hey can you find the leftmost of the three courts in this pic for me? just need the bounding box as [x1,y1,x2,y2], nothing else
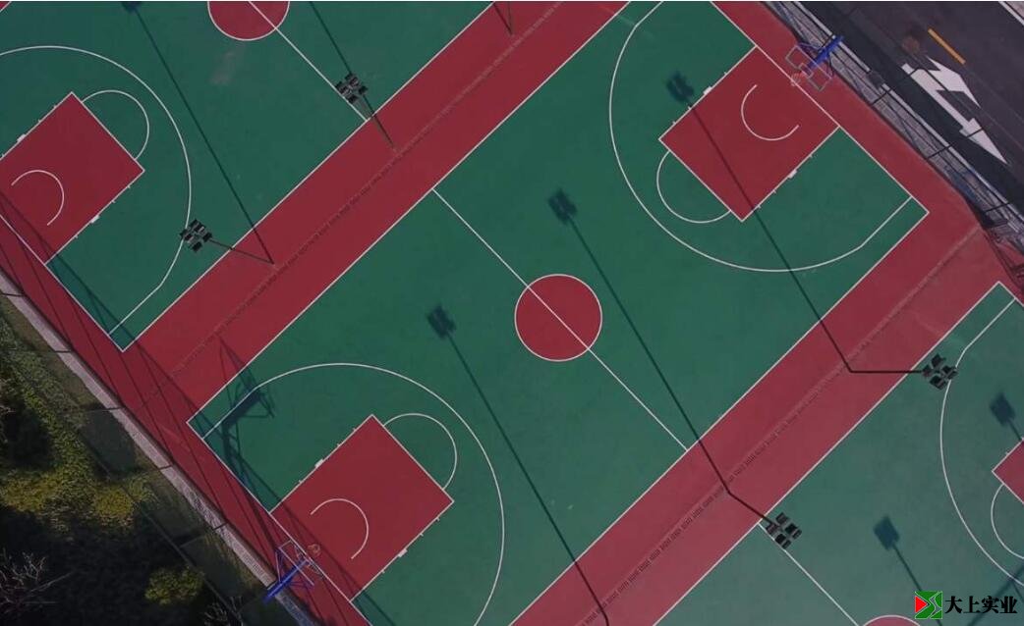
[0,0,495,352]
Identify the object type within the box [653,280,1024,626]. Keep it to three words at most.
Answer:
basketball court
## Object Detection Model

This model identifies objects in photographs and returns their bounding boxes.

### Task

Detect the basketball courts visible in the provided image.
[0,0,495,352]
[187,0,931,626]
[653,280,1024,626]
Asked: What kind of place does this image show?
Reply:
sports ground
